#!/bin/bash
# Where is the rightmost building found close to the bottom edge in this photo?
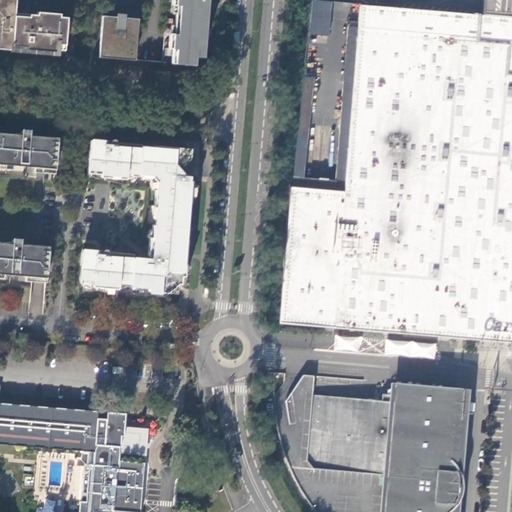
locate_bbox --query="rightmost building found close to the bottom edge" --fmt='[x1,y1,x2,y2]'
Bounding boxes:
[274,374,476,512]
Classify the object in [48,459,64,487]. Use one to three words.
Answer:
swimming pool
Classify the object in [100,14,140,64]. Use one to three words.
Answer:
building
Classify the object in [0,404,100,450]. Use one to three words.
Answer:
building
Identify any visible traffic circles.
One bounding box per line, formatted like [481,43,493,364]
[196,309,262,386]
